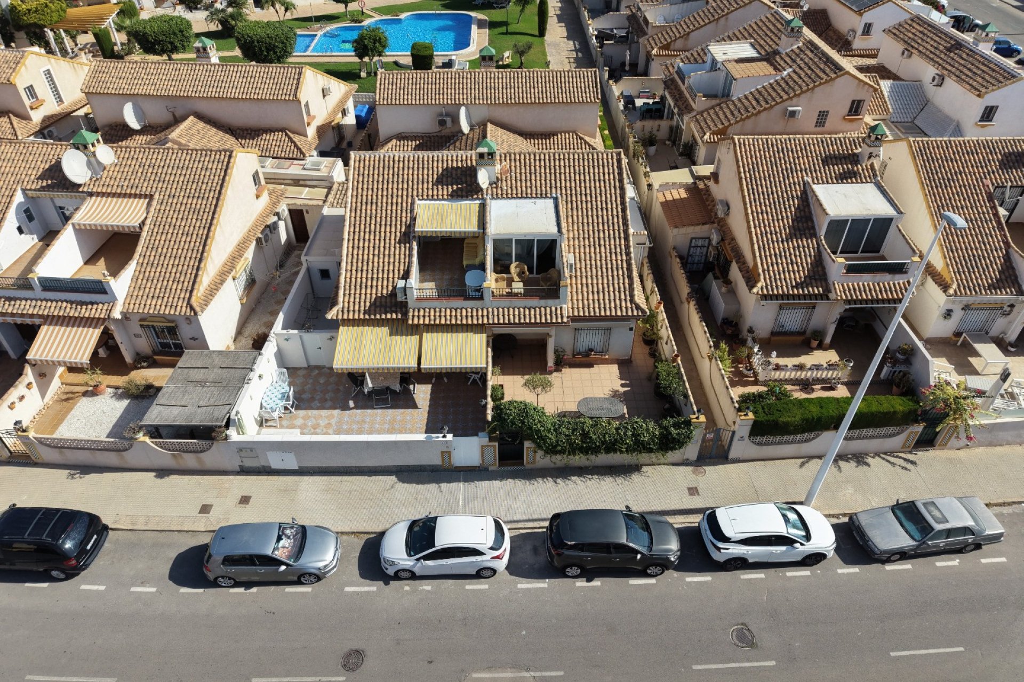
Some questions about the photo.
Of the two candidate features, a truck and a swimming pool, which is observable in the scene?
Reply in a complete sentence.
This aerial view contains a swimming pool.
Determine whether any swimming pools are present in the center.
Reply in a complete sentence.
No, the scene shows no swimming pool in the center.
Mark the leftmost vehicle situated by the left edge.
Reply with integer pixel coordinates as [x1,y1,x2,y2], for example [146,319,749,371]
[0,507,102,583]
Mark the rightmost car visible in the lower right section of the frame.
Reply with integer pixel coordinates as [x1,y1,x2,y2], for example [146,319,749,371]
[843,495,1004,565]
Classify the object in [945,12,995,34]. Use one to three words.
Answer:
car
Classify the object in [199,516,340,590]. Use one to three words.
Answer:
car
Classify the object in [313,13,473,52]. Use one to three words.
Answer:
swimming pool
